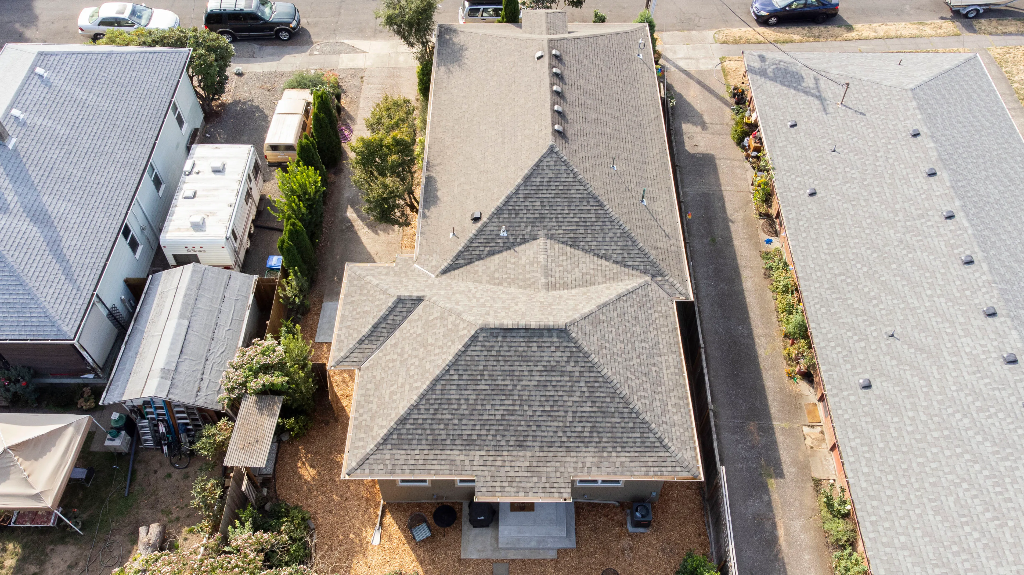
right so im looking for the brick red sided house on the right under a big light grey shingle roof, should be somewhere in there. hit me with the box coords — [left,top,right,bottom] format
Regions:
[739,49,1024,575]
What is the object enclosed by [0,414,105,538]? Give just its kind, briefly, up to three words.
tent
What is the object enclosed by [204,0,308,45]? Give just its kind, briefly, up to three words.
car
